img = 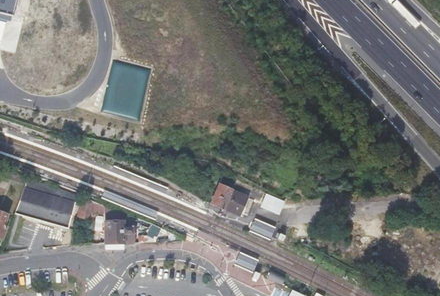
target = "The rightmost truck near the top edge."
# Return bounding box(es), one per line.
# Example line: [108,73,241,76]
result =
[388,0,420,28]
